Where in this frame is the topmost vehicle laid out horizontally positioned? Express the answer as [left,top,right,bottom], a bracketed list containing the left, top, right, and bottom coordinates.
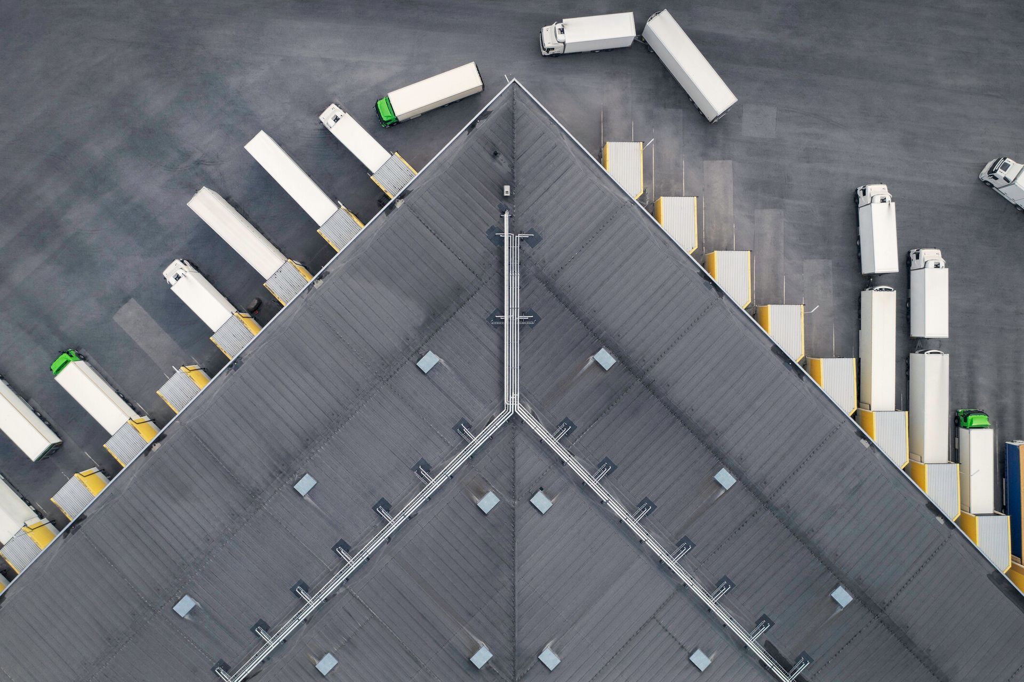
[538,11,636,57]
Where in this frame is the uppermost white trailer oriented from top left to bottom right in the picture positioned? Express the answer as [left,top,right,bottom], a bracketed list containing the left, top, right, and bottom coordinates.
[640,9,738,124]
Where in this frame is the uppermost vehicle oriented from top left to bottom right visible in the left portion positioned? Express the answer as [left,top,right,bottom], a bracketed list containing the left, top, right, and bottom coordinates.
[318,100,391,172]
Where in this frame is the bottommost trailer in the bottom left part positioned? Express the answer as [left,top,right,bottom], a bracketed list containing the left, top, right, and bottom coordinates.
[0,474,40,543]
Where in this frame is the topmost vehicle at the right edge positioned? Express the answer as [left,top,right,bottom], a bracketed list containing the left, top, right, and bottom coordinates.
[976,154,1024,217]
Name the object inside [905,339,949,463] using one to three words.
trailer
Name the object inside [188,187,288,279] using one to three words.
trailer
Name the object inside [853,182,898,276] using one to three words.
truck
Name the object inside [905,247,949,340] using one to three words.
truck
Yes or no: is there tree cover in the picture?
No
